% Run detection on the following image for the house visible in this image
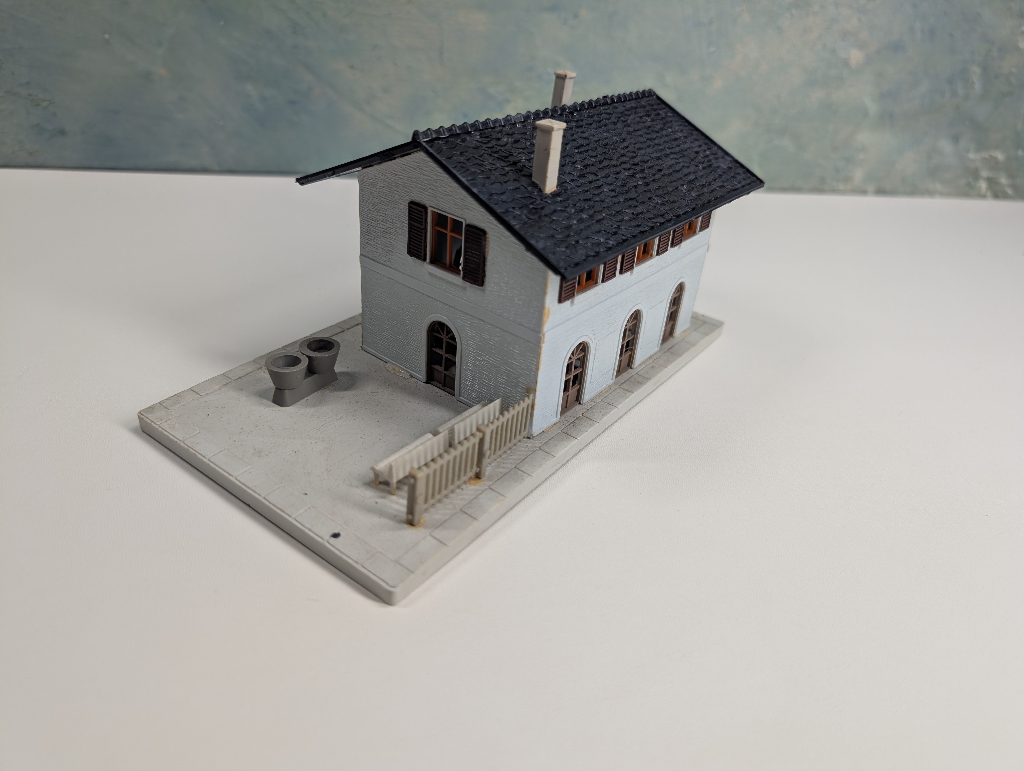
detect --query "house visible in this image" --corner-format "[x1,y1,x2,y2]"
[298,71,766,438]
